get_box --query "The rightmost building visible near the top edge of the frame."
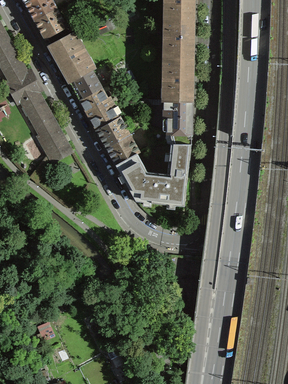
[162,0,196,102]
